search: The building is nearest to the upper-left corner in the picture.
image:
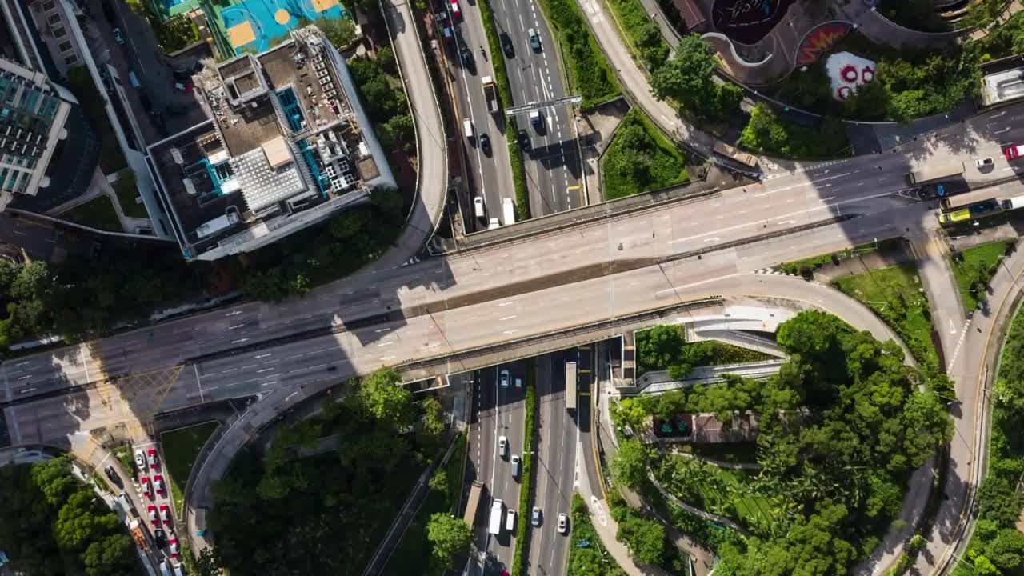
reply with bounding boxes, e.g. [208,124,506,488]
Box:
[29,0,95,86]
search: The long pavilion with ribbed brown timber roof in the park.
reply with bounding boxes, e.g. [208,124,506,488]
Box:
[693,413,757,443]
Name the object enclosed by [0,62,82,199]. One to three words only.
building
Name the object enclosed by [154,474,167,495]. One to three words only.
vehicle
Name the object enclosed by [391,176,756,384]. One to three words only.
overpass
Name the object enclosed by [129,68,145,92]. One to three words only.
vehicle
